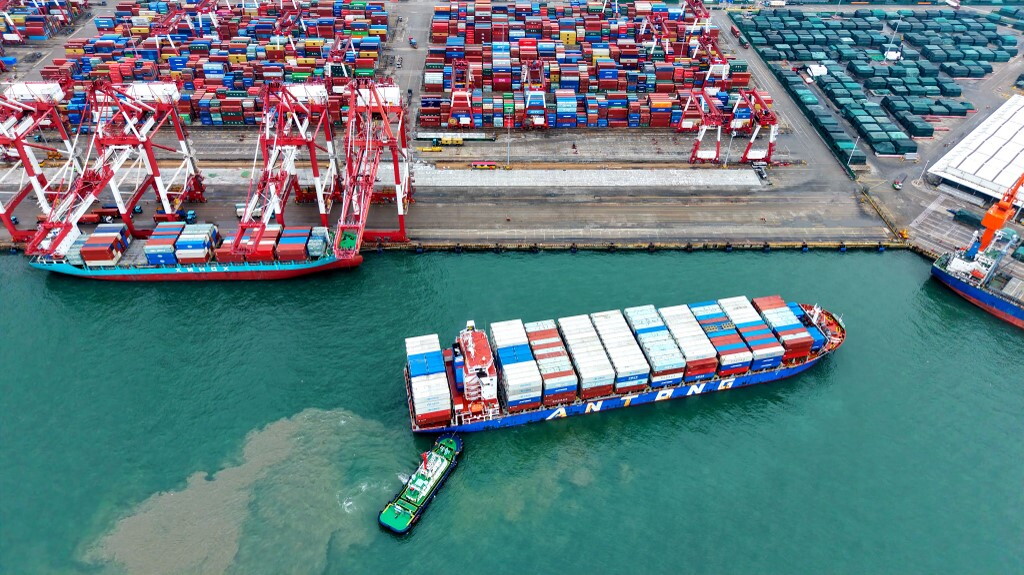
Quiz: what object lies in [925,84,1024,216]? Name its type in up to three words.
building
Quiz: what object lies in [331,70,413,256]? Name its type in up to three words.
container crane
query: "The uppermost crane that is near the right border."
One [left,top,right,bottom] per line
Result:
[957,161,1024,261]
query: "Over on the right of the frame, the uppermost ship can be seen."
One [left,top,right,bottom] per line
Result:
[932,234,1024,330]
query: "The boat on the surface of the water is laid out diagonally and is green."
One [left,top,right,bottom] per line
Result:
[376,426,470,534]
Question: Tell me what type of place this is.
port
